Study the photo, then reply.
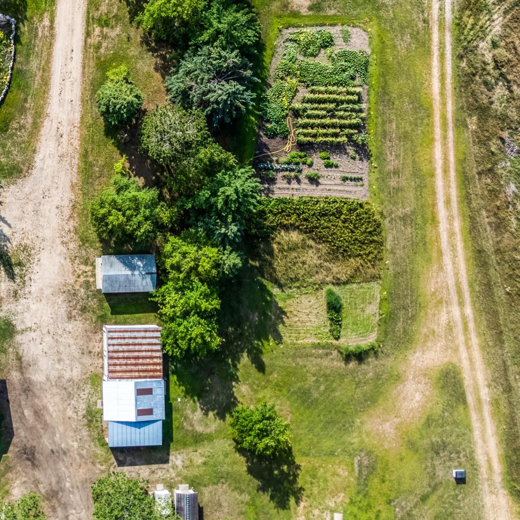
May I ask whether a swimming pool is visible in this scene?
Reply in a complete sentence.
No, I can't see a single swimming pool in this photo.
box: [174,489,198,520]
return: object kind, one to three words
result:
shed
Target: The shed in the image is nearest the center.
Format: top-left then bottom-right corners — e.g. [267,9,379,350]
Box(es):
[96,255,157,293]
